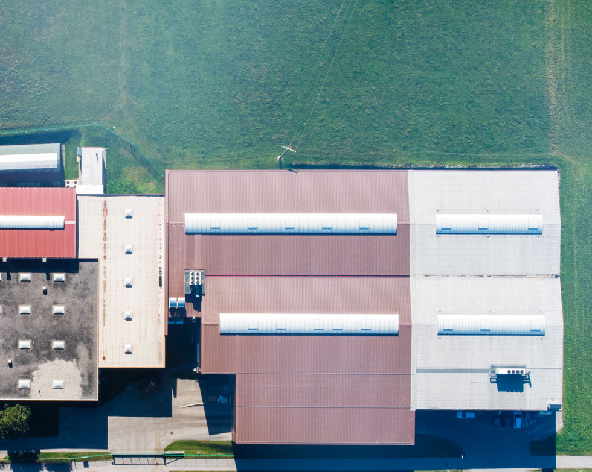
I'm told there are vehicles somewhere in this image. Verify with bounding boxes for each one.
[513,411,523,429]
[456,411,474,420]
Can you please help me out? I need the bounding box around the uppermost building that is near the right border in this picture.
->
[409,170,563,411]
